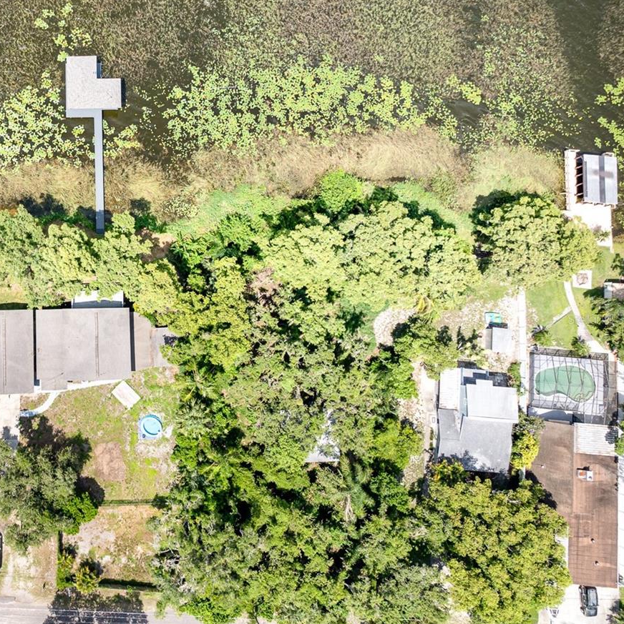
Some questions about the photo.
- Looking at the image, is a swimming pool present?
Yes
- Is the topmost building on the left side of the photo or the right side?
left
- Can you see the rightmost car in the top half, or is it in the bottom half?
bottom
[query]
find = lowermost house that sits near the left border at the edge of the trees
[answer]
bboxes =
[0,290,180,394]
